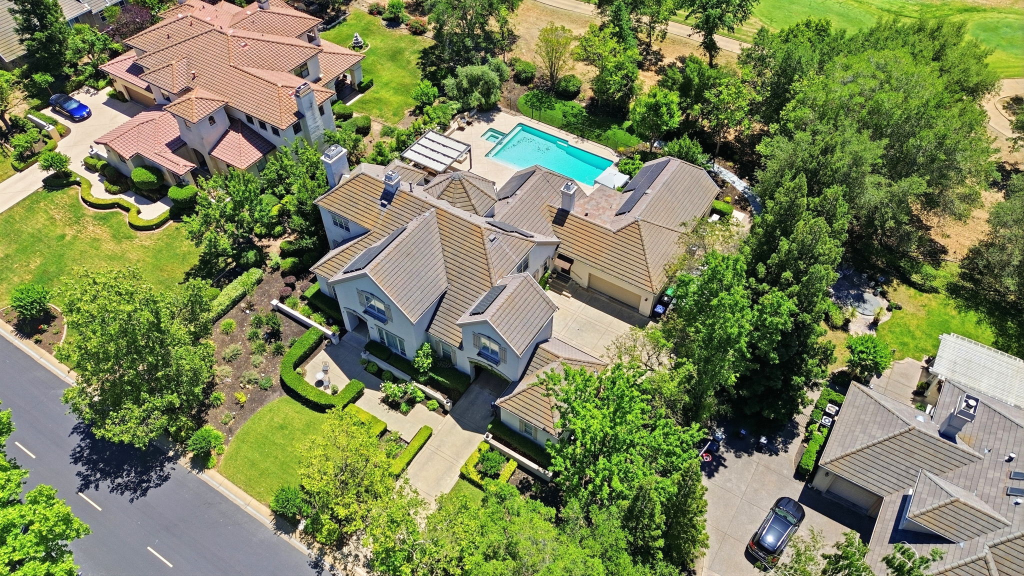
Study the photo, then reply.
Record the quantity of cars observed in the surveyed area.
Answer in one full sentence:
I count 2 cars.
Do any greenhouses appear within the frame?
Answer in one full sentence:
No, there isn't any greenhouse down there.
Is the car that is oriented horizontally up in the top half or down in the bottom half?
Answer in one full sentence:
The top half of the photo is where the car that is oriented horizontally is.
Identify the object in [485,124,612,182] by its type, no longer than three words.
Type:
swimming pool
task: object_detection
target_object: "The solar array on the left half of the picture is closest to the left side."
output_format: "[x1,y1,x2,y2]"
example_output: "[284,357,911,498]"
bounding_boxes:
[342,224,406,272]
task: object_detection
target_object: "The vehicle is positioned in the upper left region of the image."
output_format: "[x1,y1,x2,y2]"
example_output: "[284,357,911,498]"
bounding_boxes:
[50,95,93,119]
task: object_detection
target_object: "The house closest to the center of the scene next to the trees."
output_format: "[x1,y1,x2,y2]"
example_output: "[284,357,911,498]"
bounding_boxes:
[306,149,725,454]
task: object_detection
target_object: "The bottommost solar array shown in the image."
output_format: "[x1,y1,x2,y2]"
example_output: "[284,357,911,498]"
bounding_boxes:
[469,285,508,318]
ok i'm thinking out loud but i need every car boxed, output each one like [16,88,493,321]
[745,497,804,566]
[50,95,93,119]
